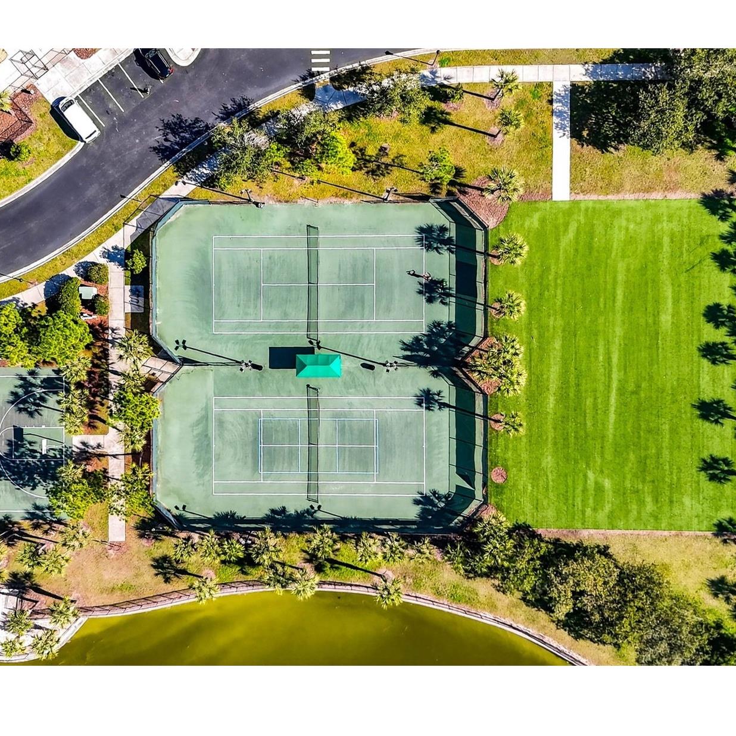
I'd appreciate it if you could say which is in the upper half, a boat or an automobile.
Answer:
automobile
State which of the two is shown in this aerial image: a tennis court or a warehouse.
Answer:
tennis court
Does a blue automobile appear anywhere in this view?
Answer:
No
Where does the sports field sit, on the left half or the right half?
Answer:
right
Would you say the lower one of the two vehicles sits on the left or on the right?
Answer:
left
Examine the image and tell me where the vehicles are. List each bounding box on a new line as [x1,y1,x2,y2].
[63,100,101,146]
[140,40,175,84]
